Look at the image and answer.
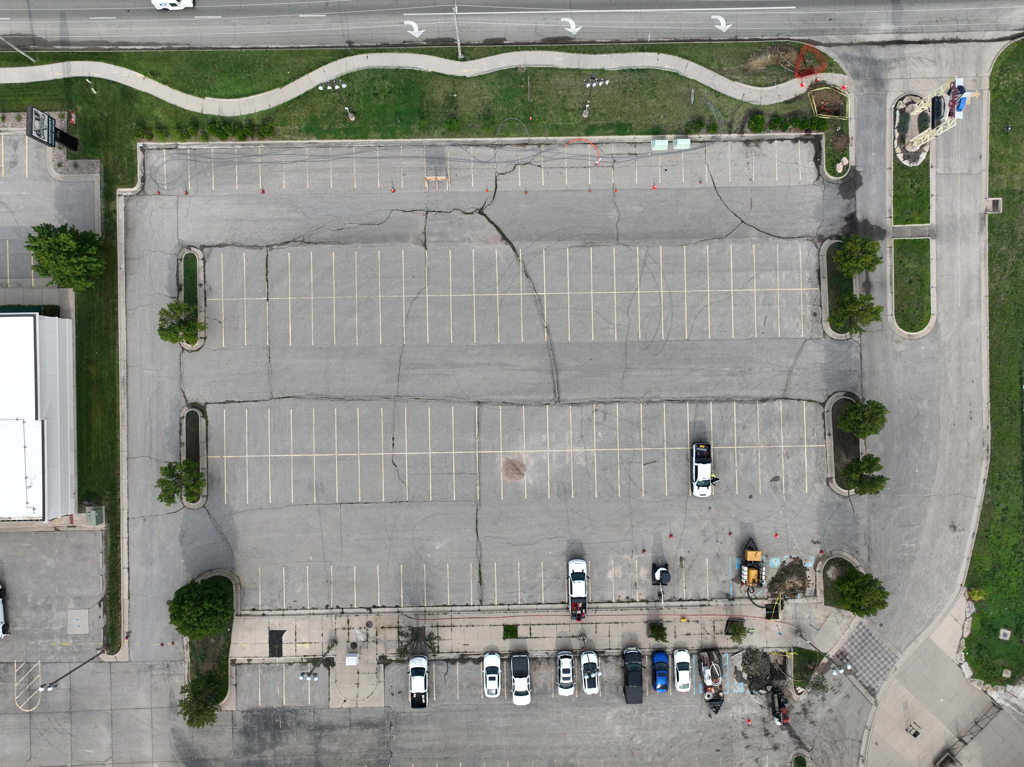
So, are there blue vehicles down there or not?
Yes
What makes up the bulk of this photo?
paved ground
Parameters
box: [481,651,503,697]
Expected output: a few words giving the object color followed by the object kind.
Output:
white car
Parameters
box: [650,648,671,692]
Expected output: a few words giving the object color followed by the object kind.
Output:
blue car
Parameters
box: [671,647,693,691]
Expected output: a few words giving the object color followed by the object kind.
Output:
white car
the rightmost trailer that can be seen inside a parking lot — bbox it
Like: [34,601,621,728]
[740,535,766,588]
